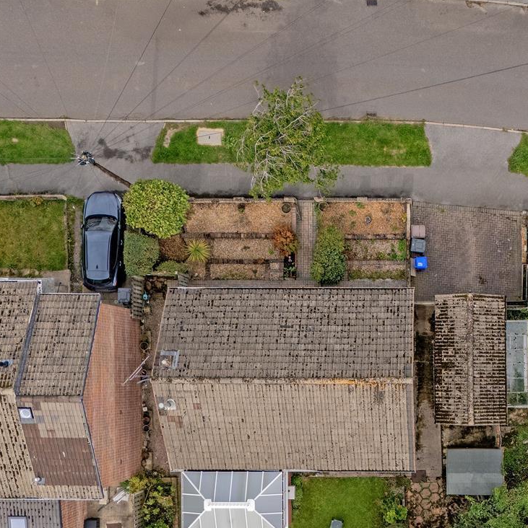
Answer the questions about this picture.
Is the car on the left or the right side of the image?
left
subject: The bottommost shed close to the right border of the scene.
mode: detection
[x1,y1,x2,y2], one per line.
[447,447,503,495]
